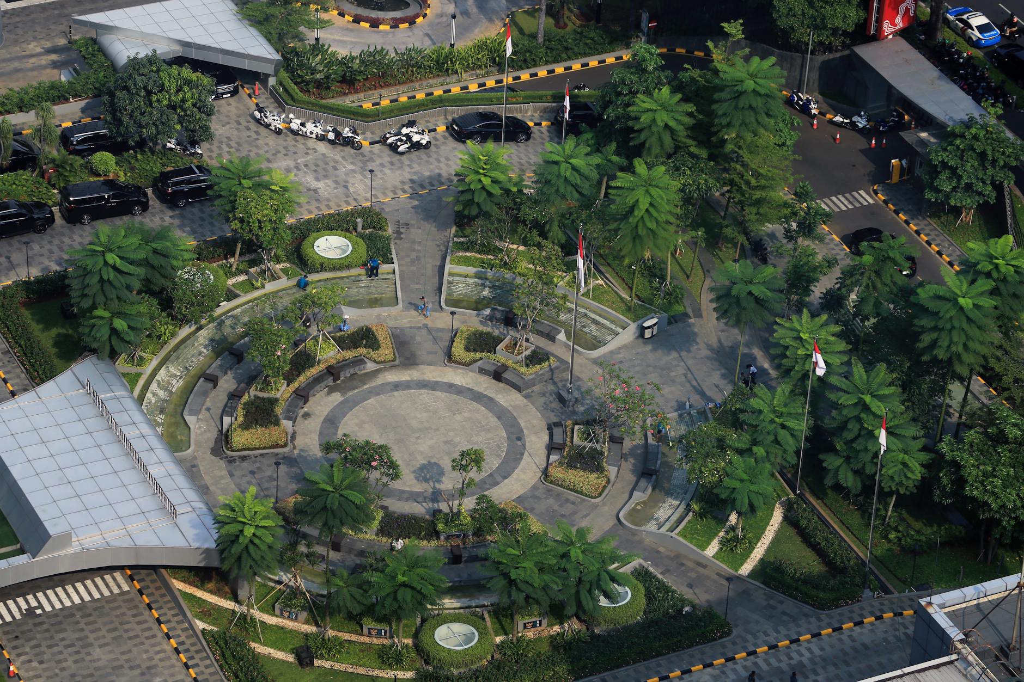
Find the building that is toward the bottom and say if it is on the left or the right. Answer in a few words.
right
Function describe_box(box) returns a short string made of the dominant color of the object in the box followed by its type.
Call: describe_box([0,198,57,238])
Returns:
black car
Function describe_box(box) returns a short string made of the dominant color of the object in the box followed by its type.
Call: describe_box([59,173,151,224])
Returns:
black car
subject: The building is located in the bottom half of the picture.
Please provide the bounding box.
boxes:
[909,559,1024,682]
